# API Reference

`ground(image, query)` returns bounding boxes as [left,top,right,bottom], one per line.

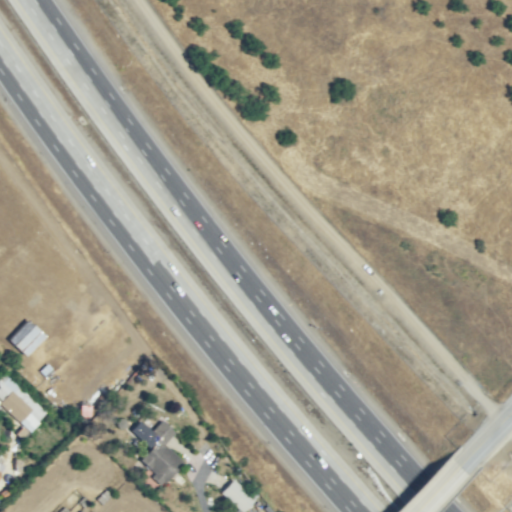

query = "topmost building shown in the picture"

[12,321,46,356]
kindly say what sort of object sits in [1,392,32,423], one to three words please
house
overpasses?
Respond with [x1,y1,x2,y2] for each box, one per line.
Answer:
[401,457,475,512]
